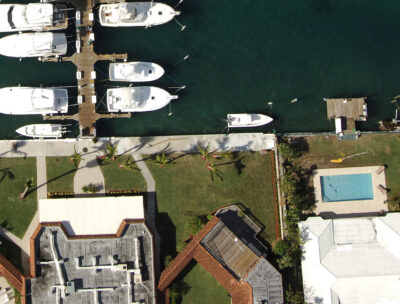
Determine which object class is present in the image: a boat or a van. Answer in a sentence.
I can see a boat in this picture.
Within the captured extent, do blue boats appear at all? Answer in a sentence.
No, I can't see a single blue boat in this photo.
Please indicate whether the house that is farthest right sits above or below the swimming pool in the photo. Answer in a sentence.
In the image, the house that is farthest right sits below the swimming pool.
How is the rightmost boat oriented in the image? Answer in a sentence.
In this picture, the rightmost boat lies from side to side.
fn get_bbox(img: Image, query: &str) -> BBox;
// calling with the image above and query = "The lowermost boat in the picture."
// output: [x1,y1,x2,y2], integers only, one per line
[7,123,67,137]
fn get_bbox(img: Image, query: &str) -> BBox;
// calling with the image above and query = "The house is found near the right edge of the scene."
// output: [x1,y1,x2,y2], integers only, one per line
[297,213,400,304]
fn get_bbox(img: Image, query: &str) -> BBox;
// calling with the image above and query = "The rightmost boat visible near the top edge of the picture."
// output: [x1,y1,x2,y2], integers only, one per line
[96,0,183,29]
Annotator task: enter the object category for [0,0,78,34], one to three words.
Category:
boat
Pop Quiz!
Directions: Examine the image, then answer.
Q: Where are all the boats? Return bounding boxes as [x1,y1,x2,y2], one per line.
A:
[99,61,179,84]
[0,27,72,58]
[0,0,78,34]
[223,103,274,128]
[7,123,67,137]
[96,85,184,113]
[96,0,183,29]
[0,81,82,116]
